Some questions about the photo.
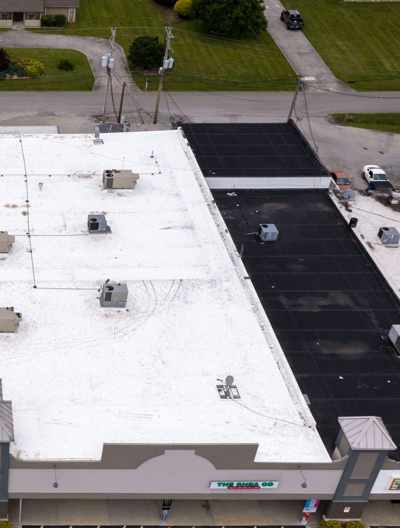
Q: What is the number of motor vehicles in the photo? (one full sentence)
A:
Altogether the scene contains 3 motor vehicles.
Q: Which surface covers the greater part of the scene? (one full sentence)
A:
For the most part, this view shows buildings.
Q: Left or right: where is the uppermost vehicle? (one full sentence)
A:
You can find the uppermost vehicle on the right side of the picture.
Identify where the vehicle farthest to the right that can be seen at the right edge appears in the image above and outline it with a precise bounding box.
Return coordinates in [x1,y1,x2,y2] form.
[364,165,397,189]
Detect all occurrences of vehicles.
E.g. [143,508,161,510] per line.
[364,165,397,189]
[282,7,311,27]
[327,166,358,189]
